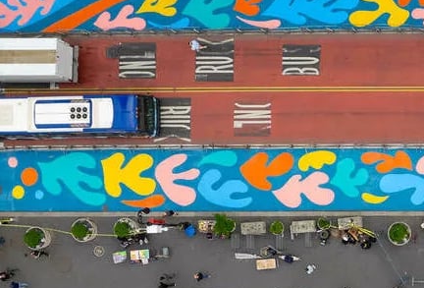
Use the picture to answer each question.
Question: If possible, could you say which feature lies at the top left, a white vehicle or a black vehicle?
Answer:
white vehicle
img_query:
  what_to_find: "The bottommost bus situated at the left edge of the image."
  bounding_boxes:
[0,93,160,137]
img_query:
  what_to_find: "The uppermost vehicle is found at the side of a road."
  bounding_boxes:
[0,40,86,84]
